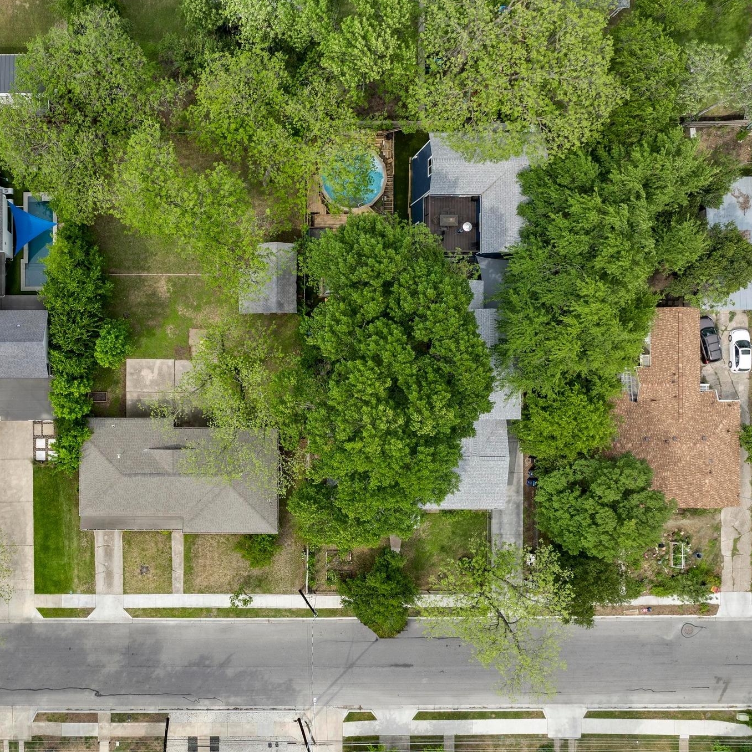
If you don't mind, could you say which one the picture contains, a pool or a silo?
pool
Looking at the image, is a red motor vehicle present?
No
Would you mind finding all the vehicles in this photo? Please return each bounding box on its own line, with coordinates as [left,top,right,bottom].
[728,331,752,372]
[700,318,724,363]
